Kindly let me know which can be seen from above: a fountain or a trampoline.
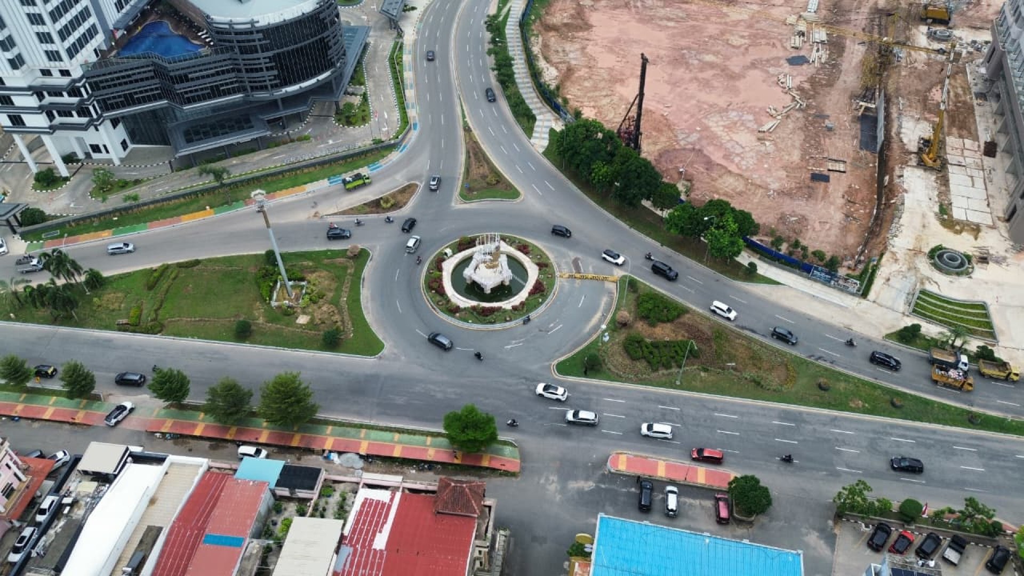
fountain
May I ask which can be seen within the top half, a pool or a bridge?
pool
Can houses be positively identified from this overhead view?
Yes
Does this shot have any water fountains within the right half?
Yes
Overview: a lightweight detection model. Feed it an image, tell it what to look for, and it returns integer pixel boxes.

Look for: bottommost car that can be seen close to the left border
[3,523,42,566]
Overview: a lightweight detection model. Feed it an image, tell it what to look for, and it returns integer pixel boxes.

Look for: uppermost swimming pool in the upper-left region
[118,20,207,58]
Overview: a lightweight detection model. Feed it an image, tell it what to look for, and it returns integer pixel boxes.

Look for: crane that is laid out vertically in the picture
[907,43,959,169]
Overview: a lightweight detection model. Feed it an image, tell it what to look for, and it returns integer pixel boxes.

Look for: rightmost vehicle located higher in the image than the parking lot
[975,357,1024,386]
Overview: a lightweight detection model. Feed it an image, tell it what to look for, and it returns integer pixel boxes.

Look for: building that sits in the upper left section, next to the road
[0,0,373,177]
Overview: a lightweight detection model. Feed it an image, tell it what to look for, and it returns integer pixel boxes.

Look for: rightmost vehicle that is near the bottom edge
[980,542,1011,576]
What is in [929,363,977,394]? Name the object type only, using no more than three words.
truck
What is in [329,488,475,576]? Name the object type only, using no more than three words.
house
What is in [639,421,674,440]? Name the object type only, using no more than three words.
car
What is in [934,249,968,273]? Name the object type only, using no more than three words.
fountain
